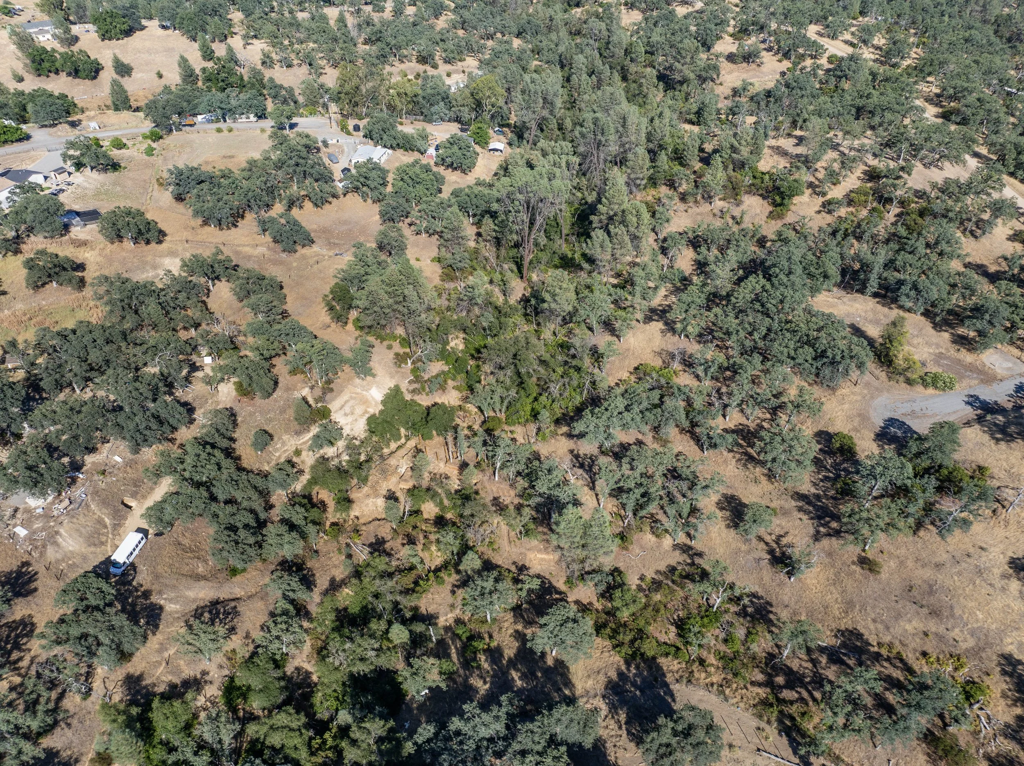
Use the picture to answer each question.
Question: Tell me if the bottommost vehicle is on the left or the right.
left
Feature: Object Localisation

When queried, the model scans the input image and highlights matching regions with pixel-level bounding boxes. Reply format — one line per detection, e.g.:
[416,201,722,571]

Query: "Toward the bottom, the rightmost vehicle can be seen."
[106,527,147,575]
